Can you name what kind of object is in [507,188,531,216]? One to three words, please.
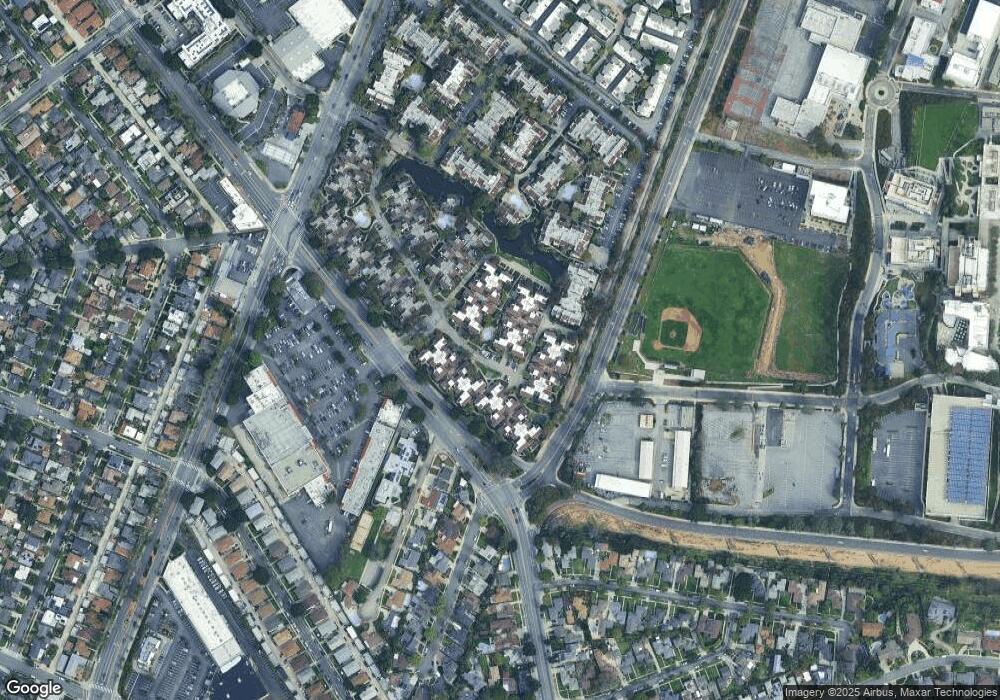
swimming pool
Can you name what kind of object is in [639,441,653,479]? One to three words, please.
shed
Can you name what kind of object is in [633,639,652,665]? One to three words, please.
house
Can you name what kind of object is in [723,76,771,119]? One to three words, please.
tennis court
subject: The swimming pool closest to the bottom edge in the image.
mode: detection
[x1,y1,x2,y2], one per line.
[478,324,496,345]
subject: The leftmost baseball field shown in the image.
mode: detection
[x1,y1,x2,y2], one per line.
[630,242,773,387]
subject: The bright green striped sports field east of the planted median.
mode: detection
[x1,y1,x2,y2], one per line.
[910,99,981,170]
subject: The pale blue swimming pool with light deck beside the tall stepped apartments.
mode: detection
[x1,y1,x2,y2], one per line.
[401,70,427,94]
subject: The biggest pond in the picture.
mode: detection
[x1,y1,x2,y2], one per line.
[393,158,568,280]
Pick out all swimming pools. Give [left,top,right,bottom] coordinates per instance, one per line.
[558,180,577,201]
[436,211,457,230]
[478,324,496,345]
[352,207,373,231]
[507,188,531,216]
[401,70,427,94]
